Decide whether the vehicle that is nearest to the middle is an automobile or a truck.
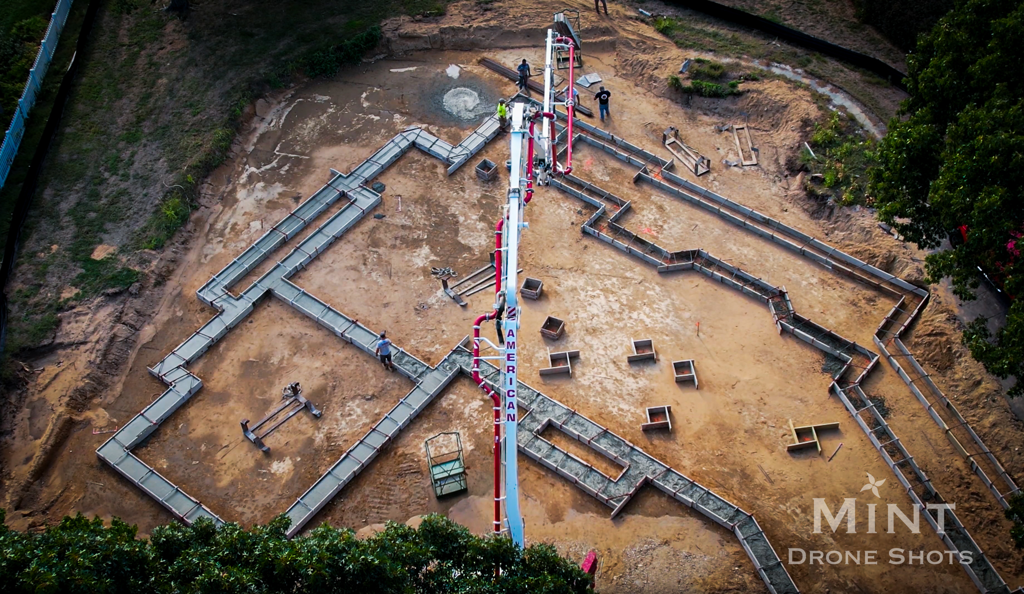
truck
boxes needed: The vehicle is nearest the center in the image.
[472,30,600,591]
